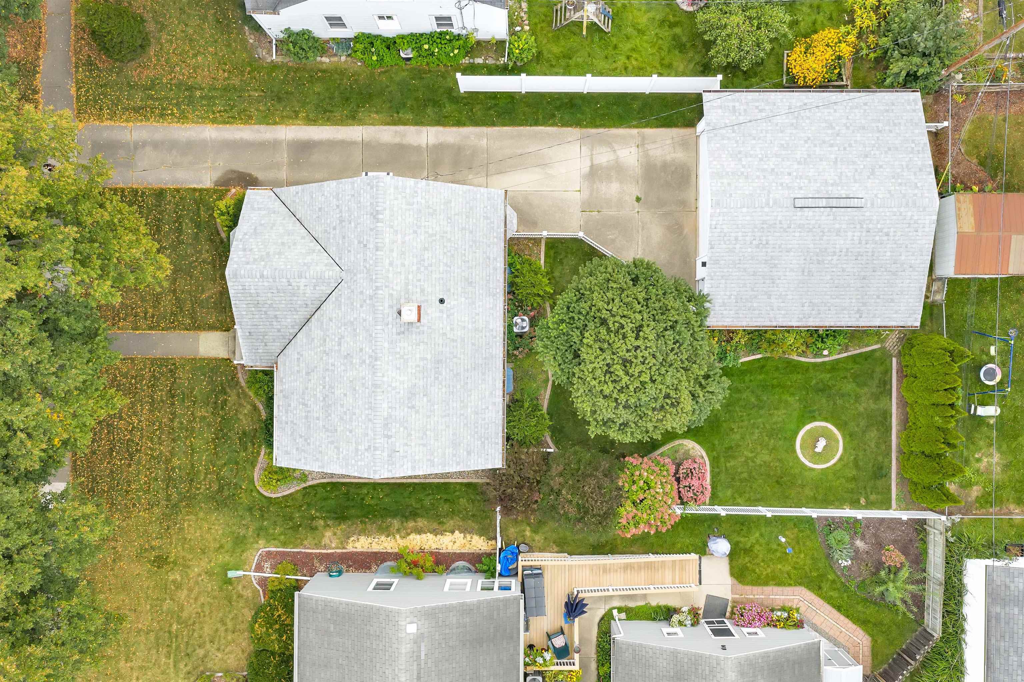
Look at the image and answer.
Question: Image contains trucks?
No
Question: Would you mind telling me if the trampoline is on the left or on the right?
right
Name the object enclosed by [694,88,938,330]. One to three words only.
building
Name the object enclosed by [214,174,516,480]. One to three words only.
house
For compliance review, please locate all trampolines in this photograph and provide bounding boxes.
[980,364,1001,385]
